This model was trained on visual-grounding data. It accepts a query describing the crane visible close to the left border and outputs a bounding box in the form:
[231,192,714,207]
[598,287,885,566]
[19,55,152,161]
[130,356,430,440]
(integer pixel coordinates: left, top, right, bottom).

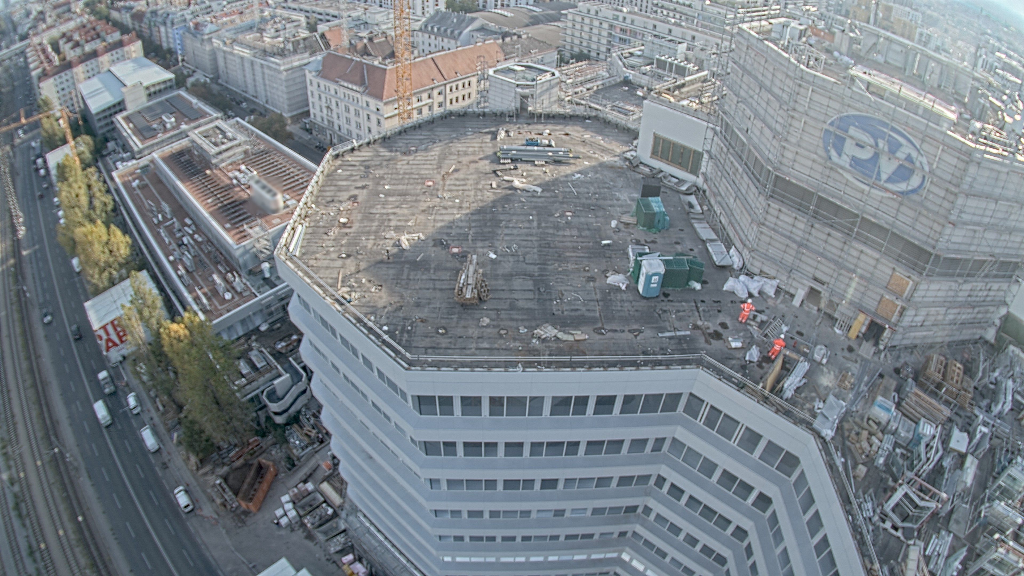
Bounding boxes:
[0,94,91,169]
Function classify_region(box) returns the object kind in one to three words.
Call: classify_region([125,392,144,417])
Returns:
car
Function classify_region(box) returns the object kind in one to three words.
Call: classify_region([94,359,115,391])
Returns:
vehicle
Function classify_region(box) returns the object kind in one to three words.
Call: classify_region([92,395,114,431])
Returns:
vehicle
